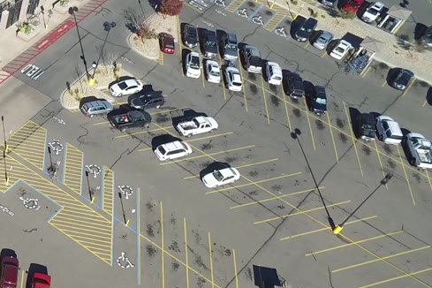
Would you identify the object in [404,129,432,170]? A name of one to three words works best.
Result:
truck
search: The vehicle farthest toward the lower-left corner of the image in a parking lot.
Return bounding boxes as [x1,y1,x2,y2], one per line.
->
[0,255,21,288]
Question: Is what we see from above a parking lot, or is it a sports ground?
parking lot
